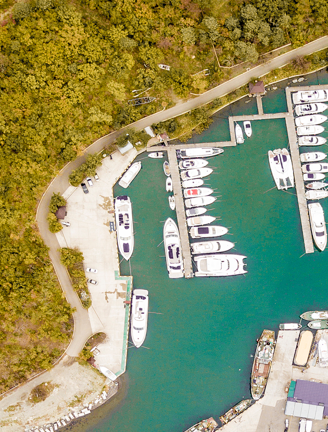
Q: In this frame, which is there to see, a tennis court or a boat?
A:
boat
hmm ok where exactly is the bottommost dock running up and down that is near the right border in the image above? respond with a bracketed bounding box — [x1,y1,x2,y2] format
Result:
[284,117,315,254]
